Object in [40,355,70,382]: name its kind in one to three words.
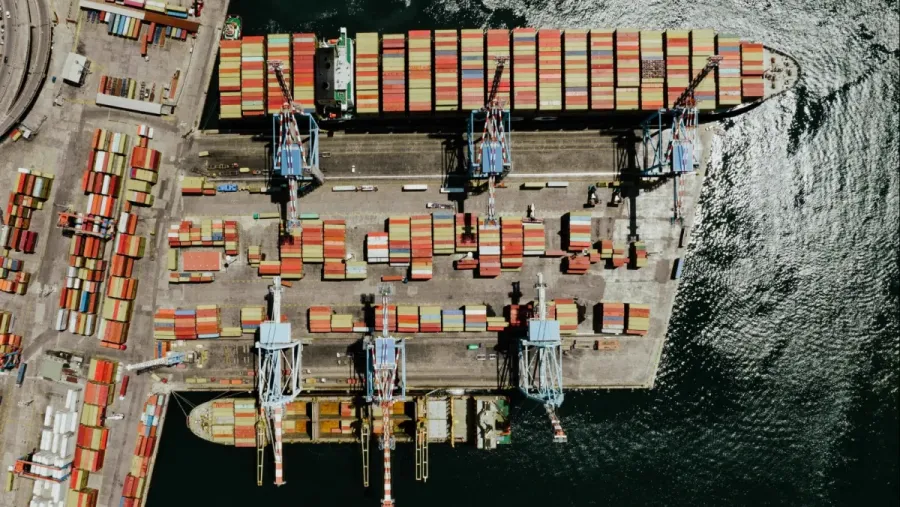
shed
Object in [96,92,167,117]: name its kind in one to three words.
shed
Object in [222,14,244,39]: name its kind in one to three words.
boat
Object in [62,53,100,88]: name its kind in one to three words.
building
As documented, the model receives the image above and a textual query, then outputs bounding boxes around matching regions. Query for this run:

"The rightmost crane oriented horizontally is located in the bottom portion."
[122,344,208,372]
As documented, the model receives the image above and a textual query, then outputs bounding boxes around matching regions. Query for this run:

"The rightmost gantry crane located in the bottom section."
[513,276,565,439]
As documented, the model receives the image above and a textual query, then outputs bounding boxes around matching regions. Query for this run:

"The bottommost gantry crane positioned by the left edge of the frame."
[9,446,74,488]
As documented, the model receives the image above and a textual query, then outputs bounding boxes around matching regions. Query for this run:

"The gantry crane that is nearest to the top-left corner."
[53,210,120,242]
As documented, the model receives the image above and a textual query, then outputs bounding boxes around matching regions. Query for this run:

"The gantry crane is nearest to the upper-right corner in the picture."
[635,56,722,220]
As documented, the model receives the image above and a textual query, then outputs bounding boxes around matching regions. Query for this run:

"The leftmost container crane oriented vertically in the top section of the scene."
[267,62,327,224]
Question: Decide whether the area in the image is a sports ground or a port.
port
